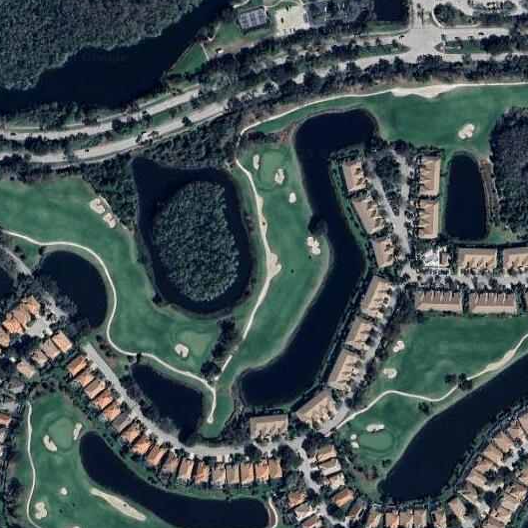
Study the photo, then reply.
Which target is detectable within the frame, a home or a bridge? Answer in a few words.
home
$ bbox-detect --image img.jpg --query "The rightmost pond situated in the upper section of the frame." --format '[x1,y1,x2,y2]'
[445,150,487,239]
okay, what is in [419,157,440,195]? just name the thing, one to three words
house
